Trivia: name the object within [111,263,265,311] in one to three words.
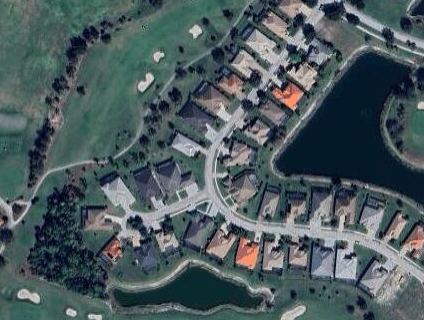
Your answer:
pond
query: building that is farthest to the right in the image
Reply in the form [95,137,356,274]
[401,222,424,253]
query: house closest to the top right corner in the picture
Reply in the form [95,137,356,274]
[308,41,331,66]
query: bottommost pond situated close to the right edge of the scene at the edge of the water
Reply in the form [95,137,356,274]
[274,49,424,208]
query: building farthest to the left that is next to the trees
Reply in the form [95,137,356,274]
[79,207,109,229]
